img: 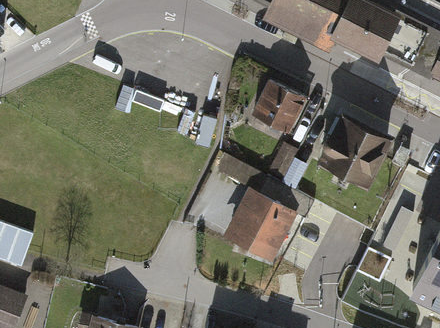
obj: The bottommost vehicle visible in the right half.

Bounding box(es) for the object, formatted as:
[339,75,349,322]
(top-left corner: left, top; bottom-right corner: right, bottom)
[298,225,322,243]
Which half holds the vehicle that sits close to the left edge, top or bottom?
top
